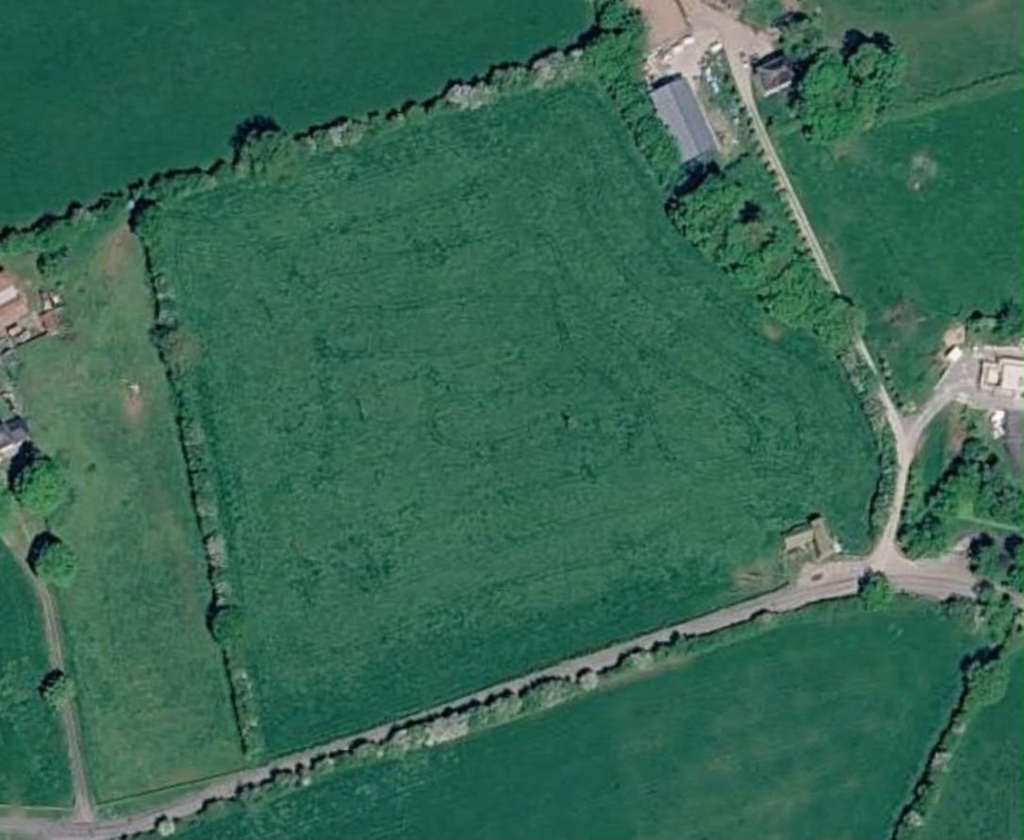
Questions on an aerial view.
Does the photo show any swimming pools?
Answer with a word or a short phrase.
No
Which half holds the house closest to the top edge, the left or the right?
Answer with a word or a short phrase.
right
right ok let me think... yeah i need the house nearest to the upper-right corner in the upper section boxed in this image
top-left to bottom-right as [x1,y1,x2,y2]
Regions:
[755,57,794,93]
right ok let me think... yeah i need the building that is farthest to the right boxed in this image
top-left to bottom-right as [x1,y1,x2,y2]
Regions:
[981,358,1024,390]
